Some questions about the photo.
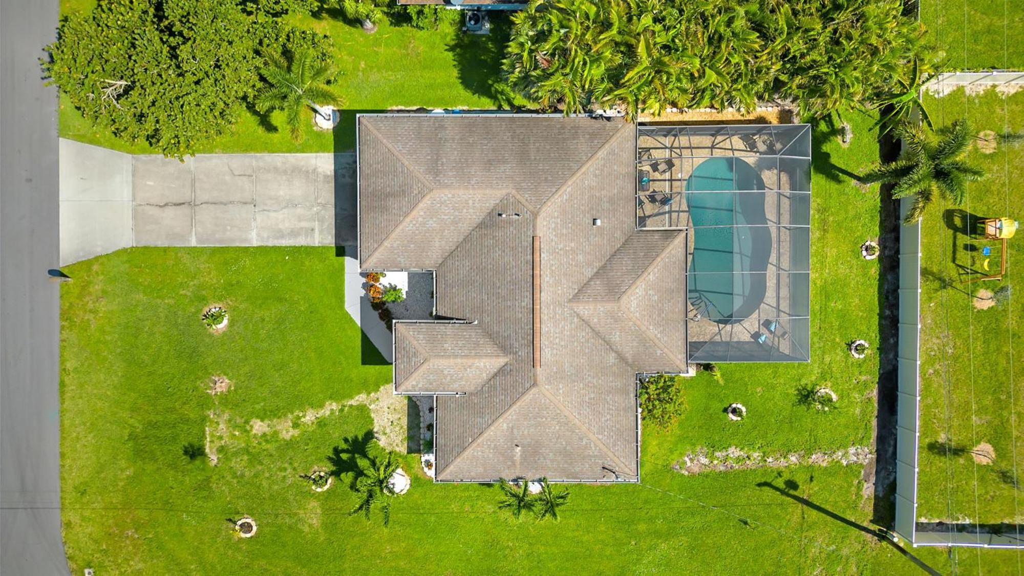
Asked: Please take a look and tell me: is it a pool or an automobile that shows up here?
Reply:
pool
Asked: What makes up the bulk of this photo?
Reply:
grass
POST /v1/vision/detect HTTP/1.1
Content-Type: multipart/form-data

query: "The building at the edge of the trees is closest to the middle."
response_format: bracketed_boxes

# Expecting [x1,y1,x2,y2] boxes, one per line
[355,111,688,484]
